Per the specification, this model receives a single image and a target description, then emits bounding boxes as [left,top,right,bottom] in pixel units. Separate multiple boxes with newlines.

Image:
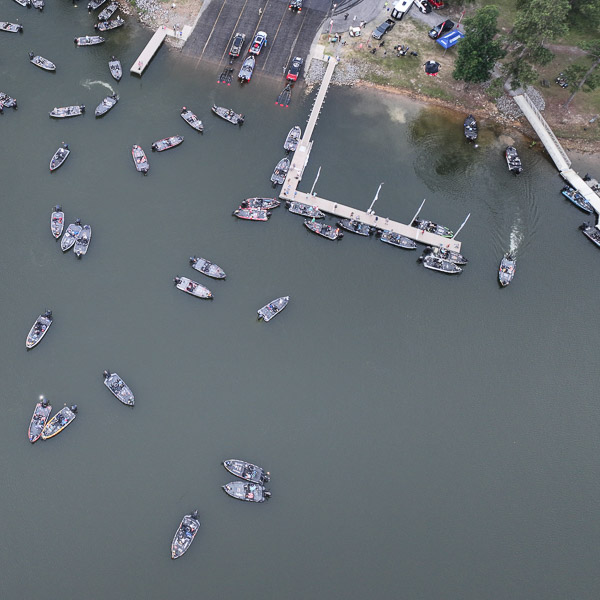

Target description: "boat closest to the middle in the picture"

[258,296,290,323]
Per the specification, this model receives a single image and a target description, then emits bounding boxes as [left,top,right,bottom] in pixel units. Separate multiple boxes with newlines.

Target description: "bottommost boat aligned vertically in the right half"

[500,254,518,286]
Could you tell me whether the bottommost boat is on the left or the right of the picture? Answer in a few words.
left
